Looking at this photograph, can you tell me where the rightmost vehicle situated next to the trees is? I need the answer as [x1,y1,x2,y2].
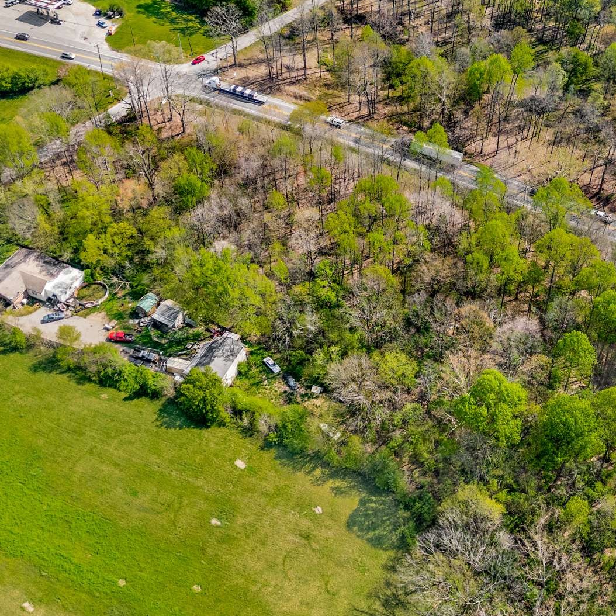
[590,209,615,222]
